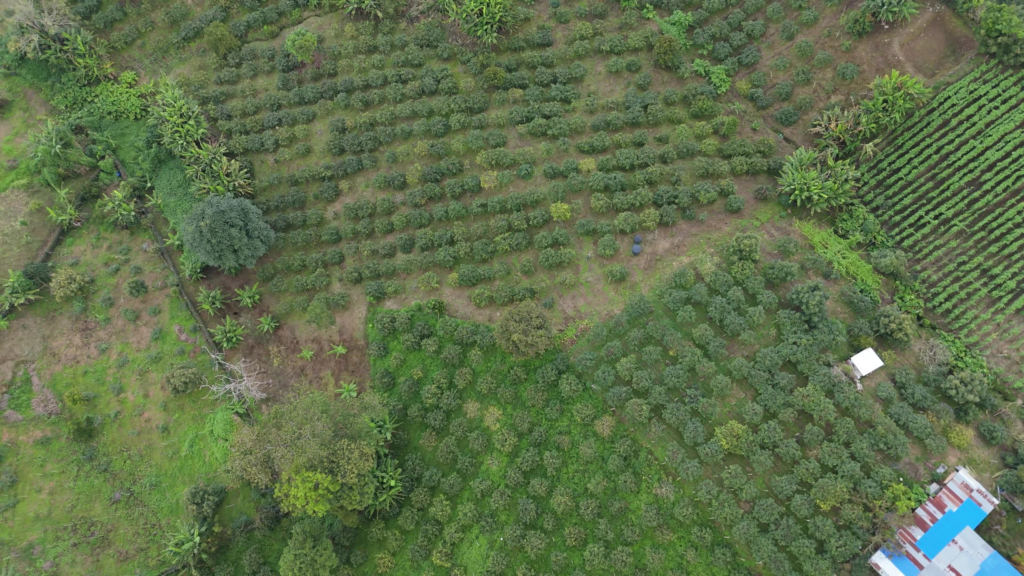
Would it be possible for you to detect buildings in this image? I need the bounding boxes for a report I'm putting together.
[845,347,884,380]
[865,468,1022,576]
